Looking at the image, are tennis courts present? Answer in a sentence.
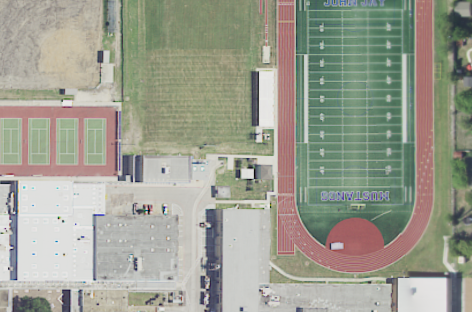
Yes, the image includes a tennis court.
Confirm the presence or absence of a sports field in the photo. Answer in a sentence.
Yes, the picture does show a sports field.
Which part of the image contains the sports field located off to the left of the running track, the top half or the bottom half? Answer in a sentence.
The sports field located off to the left of the running track sits in the top half of the picture.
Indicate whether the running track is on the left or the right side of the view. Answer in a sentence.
The running track appears in the right half of the scene.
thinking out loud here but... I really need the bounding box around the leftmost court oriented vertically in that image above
[0,118,22,164]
